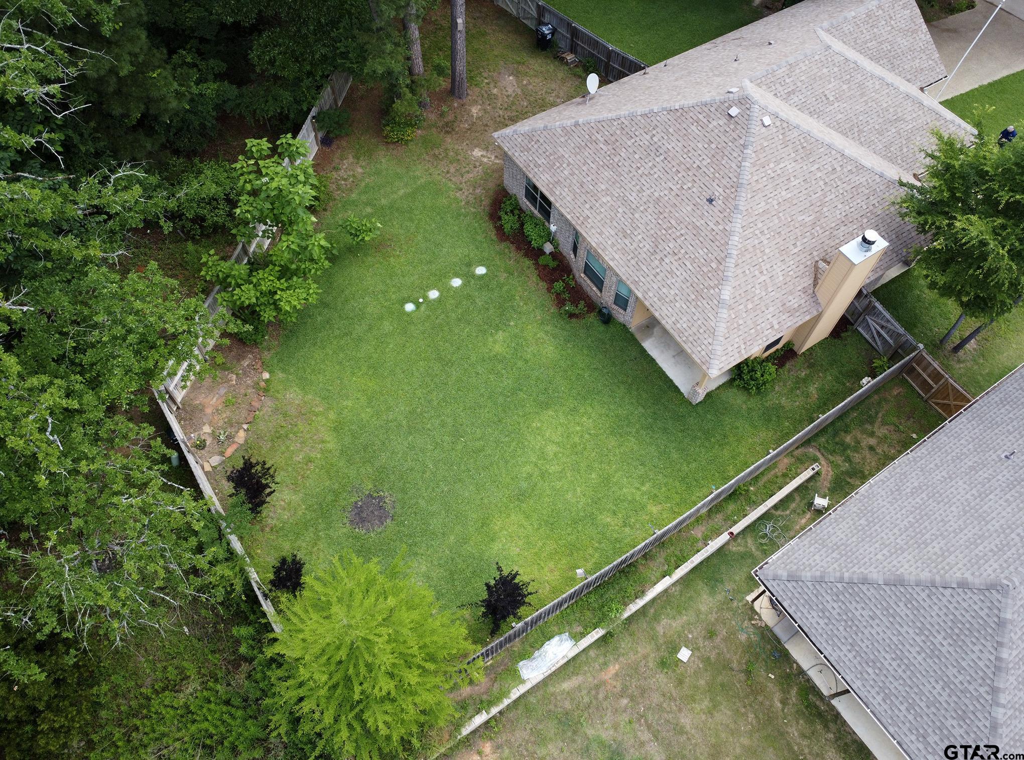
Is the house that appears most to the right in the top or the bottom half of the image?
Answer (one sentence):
The house that appears most to the right is in the bottom half of the image.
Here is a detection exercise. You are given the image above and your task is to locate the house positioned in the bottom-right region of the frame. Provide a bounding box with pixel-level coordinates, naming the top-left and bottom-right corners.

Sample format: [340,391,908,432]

[749,366,1024,760]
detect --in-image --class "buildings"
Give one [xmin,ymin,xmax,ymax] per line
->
[749,366,1024,760]
[496,0,989,404]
